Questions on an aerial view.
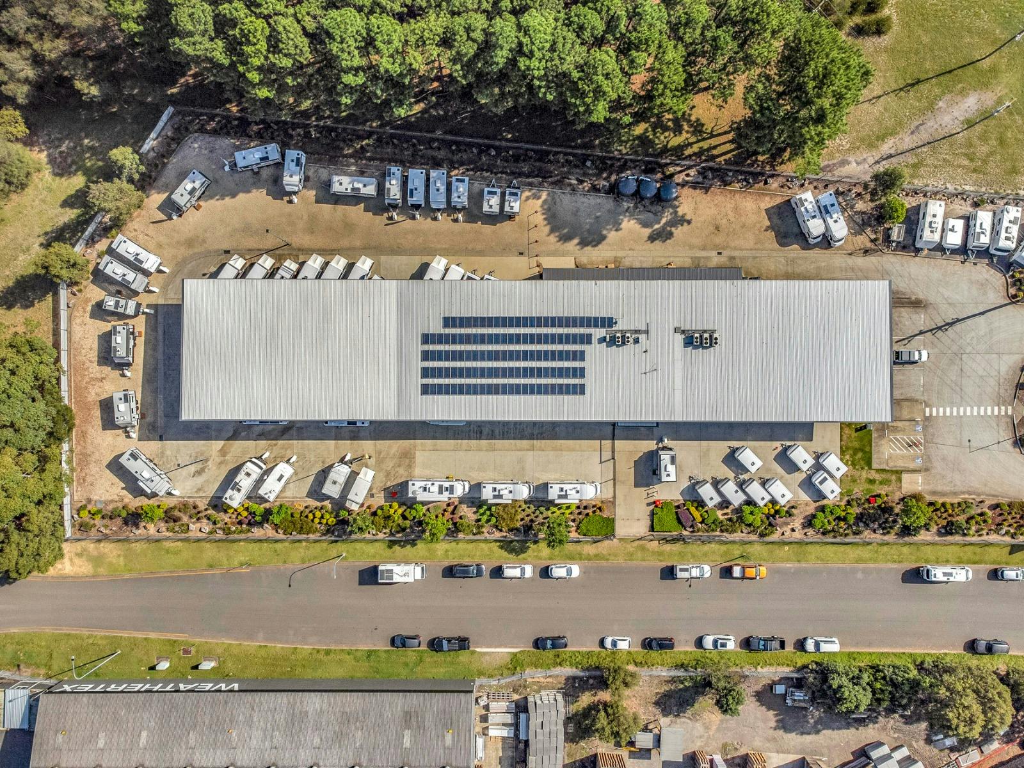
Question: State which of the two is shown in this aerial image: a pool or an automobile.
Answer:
automobile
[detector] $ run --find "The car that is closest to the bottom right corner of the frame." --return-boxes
[974,638,1010,654]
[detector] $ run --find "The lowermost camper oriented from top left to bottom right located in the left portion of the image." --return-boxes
[120,445,183,497]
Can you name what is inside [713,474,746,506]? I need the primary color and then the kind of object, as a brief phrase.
white vehicle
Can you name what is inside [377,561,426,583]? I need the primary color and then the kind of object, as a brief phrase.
white truck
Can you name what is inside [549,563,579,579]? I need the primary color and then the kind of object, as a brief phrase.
white car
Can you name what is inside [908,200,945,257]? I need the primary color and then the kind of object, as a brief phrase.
white camper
